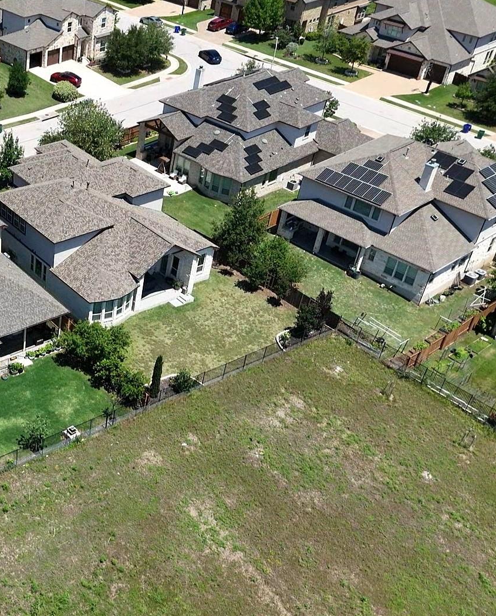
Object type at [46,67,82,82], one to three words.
car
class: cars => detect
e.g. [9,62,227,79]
[136,12,167,23]
[222,19,252,33]
[46,67,82,82]
[194,47,229,63]
[206,14,232,31]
